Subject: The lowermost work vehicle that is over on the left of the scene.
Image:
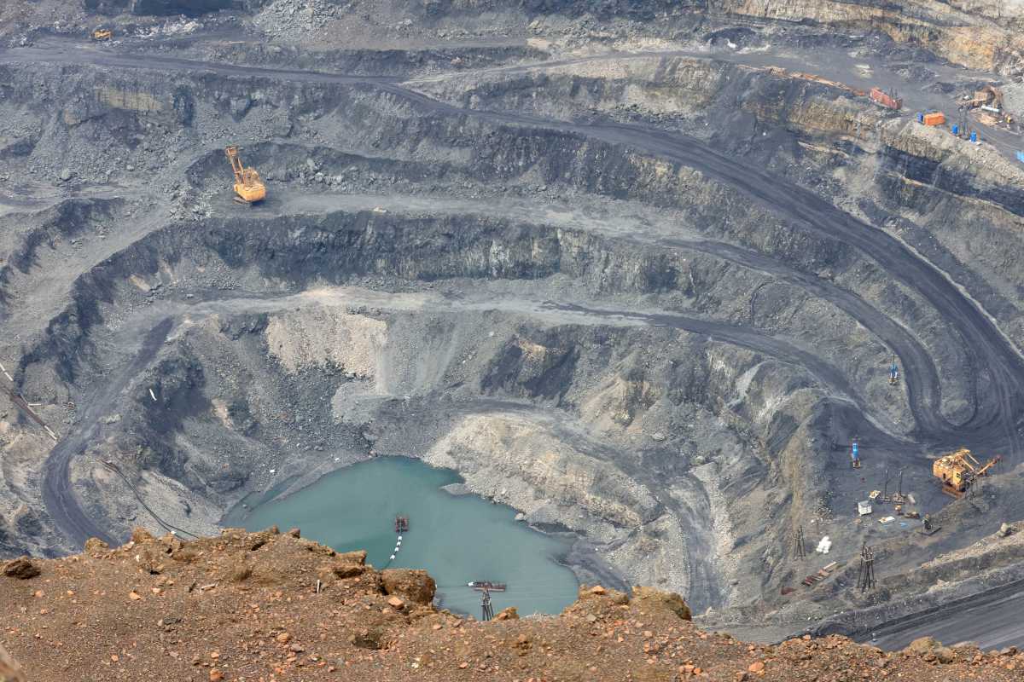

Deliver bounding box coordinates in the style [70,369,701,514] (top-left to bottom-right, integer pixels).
[225,134,265,205]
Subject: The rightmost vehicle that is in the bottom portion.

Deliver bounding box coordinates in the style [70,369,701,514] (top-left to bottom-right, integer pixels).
[928,453,1010,496]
